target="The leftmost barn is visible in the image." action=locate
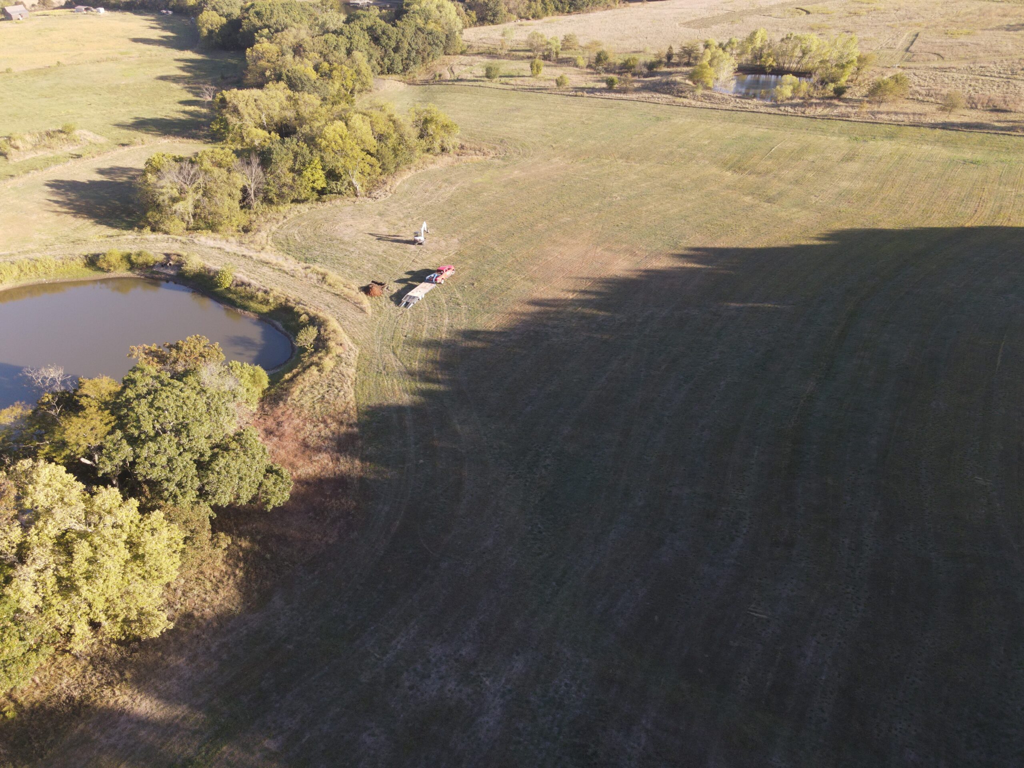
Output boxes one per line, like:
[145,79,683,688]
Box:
[8,6,36,20]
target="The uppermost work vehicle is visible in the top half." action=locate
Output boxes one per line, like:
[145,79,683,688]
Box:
[412,220,432,245]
